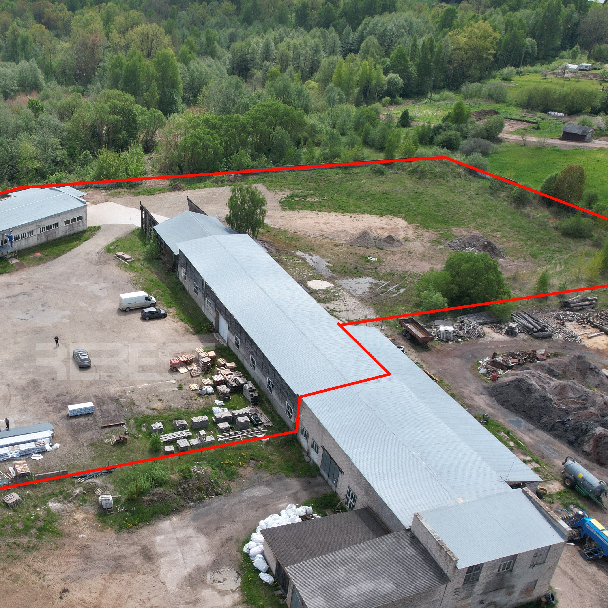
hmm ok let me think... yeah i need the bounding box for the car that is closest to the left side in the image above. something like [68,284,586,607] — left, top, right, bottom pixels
[71,348,93,370]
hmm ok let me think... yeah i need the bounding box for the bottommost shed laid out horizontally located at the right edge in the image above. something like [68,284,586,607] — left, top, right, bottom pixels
[561,123,595,140]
